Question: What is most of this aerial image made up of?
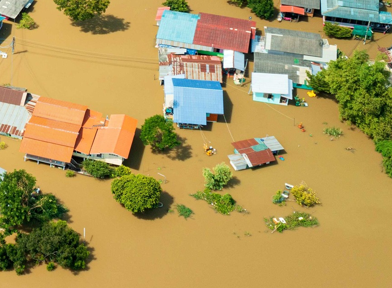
water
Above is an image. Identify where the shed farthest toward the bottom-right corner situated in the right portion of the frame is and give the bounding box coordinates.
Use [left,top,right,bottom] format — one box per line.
[228,137,284,170]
